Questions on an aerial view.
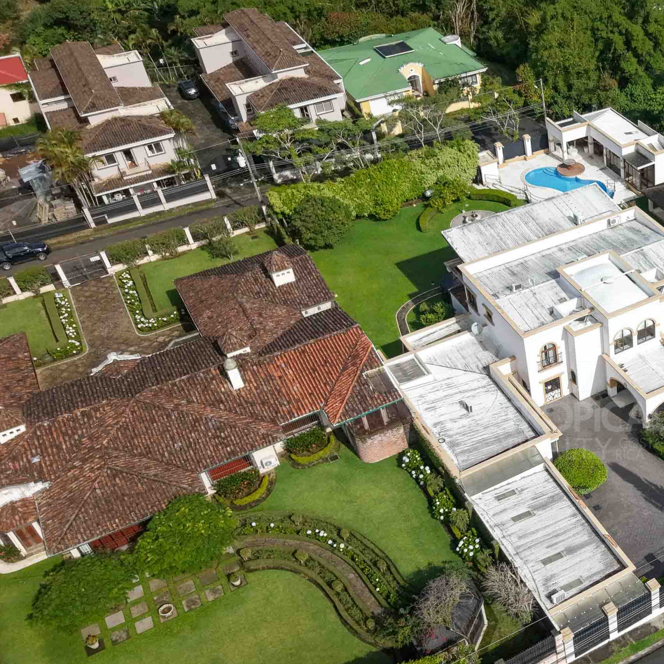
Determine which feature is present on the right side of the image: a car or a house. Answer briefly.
house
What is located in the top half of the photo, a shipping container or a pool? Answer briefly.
pool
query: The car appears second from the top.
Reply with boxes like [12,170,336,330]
[218,106,240,128]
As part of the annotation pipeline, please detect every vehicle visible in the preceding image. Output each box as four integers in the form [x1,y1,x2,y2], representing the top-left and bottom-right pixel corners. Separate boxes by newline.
[0,243,48,268]
[218,106,240,128]
[172,76,191,98]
